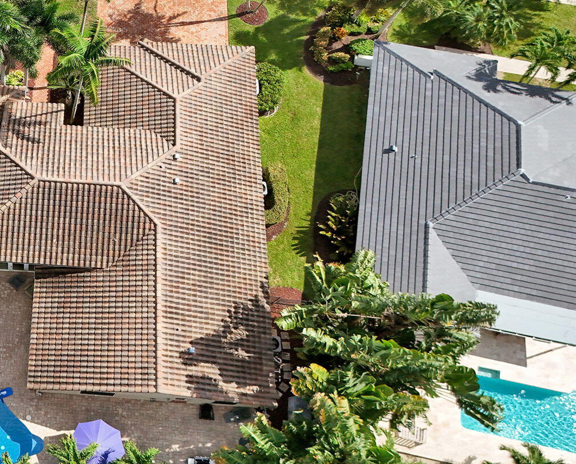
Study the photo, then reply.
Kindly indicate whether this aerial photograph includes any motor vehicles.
No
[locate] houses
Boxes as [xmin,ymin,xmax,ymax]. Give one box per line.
[0,39,279,404]
[352,40,576,351]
